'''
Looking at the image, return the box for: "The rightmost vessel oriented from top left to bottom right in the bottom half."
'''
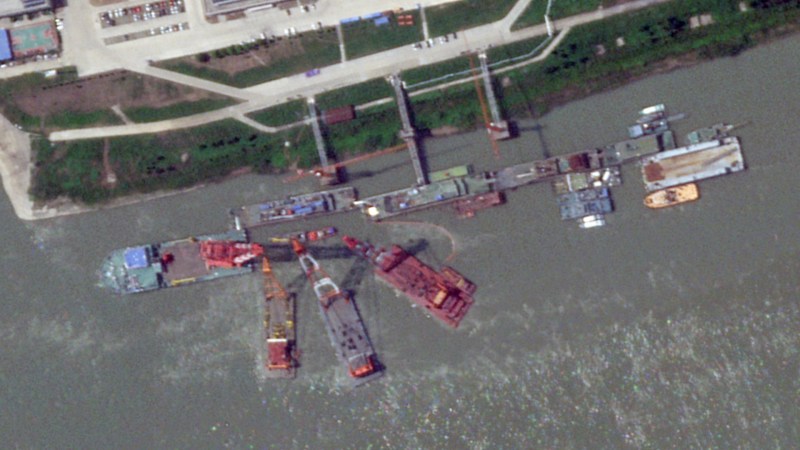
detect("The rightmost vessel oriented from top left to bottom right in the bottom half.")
[441,266,476,295]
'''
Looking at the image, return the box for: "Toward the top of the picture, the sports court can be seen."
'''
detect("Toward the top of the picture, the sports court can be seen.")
[11,21,60,61]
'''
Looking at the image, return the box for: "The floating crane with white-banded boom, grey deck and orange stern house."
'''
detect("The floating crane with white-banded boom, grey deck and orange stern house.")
[292,239,381,381]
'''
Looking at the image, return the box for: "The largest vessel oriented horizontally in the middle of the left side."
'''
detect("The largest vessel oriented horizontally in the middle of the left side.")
[96,230,262,290]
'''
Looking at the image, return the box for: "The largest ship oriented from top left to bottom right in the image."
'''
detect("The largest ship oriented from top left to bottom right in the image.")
[341,236,474,326]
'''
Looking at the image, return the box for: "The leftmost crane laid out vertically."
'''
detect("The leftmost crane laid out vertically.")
[263,256,299,377]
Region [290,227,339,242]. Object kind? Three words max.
boat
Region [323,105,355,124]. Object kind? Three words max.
building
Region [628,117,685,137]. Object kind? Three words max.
boat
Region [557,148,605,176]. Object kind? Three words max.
ship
